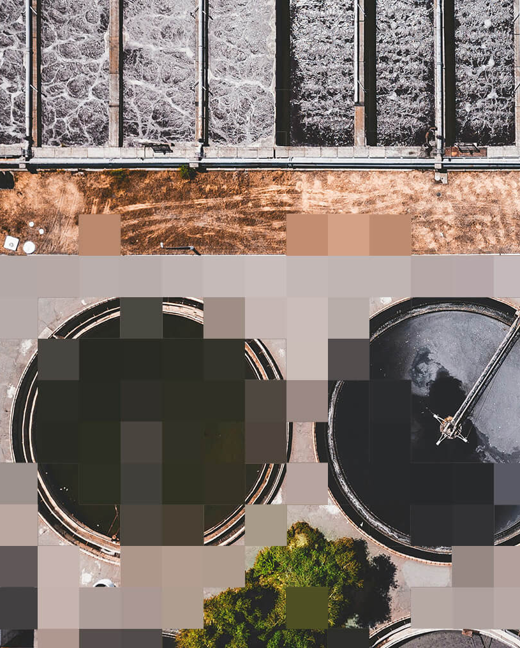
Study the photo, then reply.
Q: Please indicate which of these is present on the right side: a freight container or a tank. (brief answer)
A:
tank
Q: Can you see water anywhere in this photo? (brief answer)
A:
Yes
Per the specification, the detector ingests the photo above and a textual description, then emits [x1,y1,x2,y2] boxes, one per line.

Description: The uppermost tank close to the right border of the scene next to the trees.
[314,291,520,568]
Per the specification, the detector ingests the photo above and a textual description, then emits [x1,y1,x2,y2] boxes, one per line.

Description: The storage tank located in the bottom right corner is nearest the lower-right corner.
[354,606,520,648]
